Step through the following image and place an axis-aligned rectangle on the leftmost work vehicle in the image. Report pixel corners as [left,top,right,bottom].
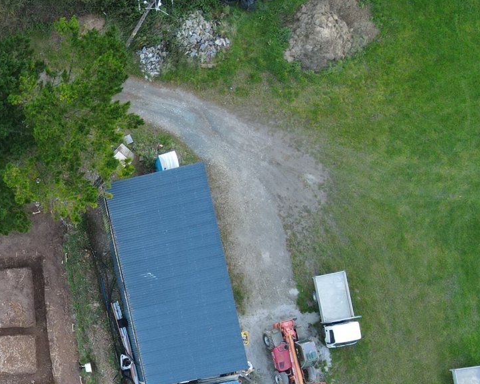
[260,318,325,384]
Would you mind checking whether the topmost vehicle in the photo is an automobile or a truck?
truck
